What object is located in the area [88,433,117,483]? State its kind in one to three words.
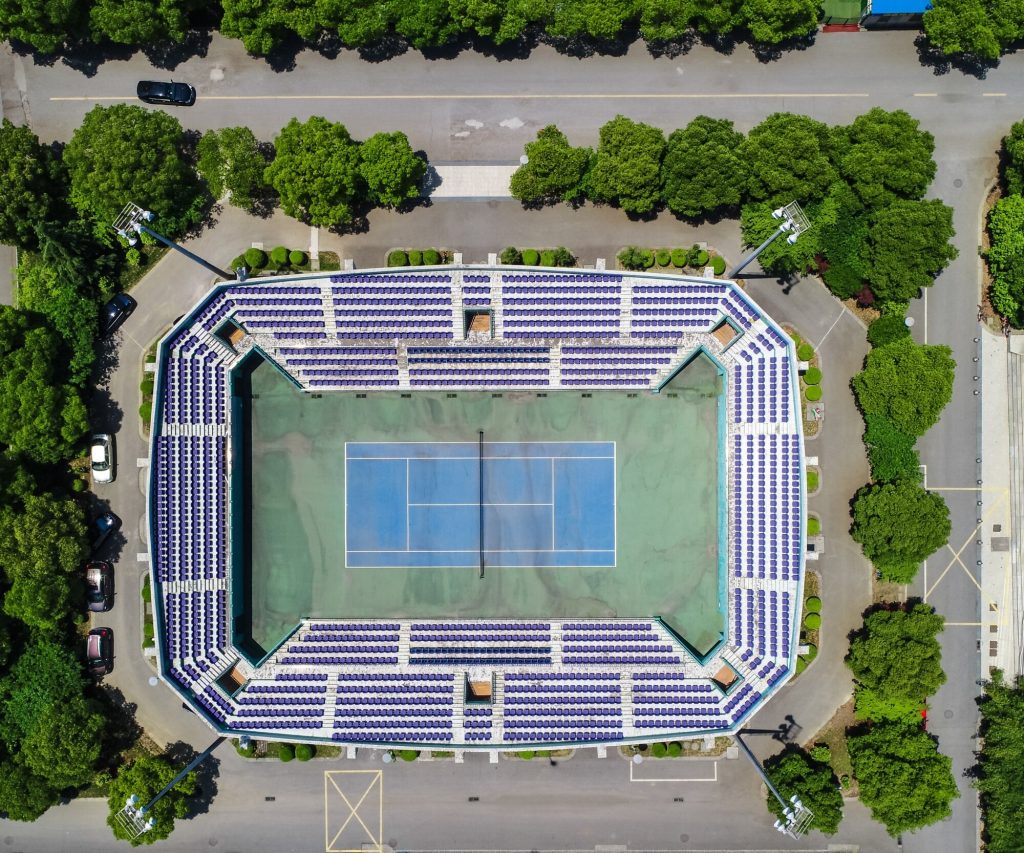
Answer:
car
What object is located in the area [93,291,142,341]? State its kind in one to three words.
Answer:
car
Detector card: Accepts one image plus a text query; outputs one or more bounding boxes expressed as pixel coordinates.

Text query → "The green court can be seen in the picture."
[821,0,861,31]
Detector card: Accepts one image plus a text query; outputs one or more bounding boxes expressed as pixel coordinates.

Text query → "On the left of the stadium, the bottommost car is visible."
[85,625,115,675]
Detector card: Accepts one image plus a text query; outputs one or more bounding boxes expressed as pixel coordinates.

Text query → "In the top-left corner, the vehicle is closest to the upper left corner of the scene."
[139,79,197,109]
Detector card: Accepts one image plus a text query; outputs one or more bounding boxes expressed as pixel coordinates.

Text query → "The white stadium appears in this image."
[137,253,819,762]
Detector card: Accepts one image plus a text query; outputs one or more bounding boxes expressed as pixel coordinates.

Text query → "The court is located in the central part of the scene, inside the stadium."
[243,355,719,654]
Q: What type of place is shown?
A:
sports ground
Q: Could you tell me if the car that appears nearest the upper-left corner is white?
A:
No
